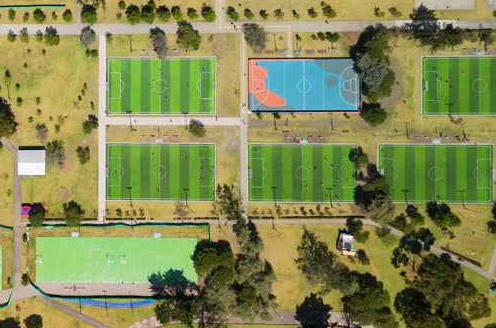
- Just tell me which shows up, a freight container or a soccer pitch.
soccer pitch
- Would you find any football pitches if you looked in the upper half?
Yes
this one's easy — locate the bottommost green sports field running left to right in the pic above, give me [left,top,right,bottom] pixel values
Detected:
[35,236,197,283]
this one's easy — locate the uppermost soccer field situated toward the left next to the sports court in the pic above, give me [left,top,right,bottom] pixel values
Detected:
[107,57,216,114]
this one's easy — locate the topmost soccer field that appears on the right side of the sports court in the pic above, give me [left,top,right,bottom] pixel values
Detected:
[421,56,496,116]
